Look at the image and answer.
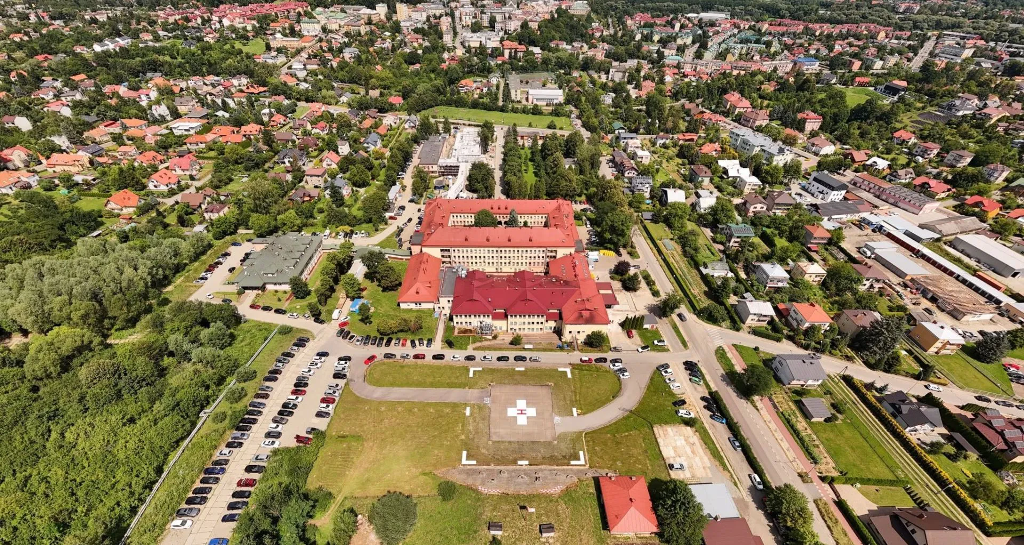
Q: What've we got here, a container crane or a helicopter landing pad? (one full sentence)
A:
The one in the frame is a helicopter landing pad.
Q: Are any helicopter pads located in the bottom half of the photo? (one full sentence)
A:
Yes, the scene does show a helicopter pad in the bottom half of the photo.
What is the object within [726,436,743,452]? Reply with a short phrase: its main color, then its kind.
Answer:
gray car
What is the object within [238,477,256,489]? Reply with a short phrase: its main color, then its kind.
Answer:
red vehicle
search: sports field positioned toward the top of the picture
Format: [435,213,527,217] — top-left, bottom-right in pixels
[418,107,565,129]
